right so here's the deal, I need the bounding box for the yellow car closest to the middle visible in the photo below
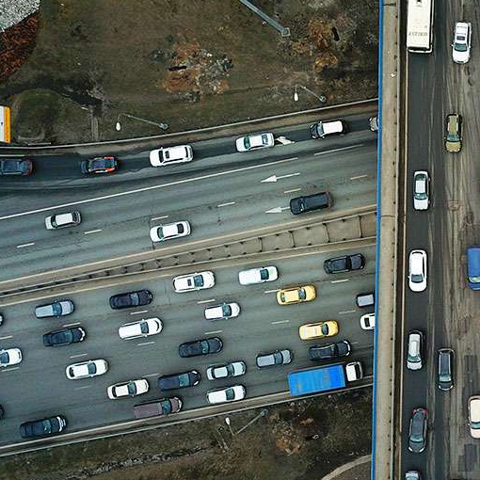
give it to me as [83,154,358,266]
[276,285,318,306]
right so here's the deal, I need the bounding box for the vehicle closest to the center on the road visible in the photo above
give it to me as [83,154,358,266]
[239,265,279,286]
